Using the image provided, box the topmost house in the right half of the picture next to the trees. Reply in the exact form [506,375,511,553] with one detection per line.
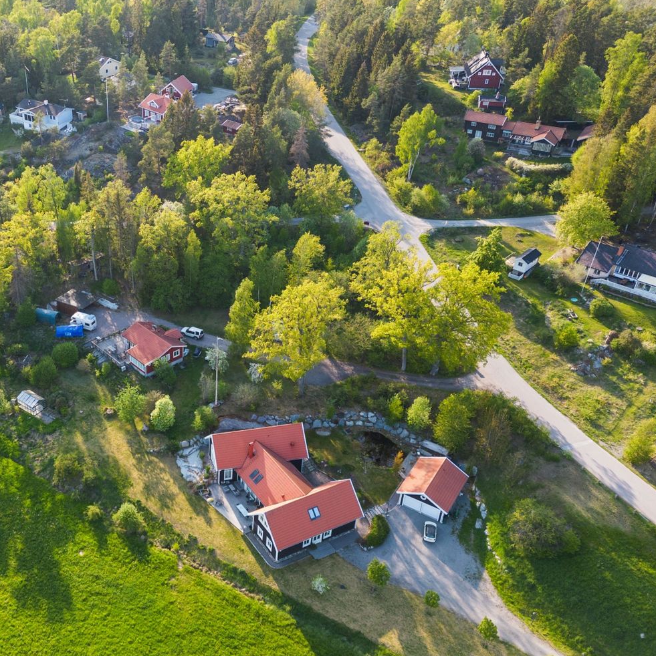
[449,50,503,86]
